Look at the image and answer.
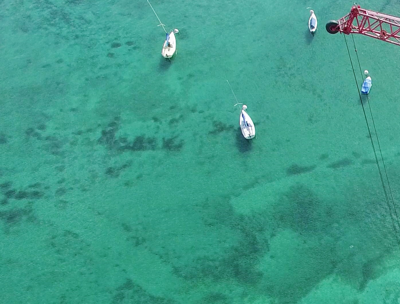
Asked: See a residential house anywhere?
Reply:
No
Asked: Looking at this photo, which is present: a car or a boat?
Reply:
boat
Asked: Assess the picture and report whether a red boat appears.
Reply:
No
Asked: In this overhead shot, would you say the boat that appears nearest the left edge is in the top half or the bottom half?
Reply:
top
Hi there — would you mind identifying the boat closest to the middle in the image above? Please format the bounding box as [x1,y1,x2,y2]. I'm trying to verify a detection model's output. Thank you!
[228,85,254,145]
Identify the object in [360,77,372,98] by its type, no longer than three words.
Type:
boat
